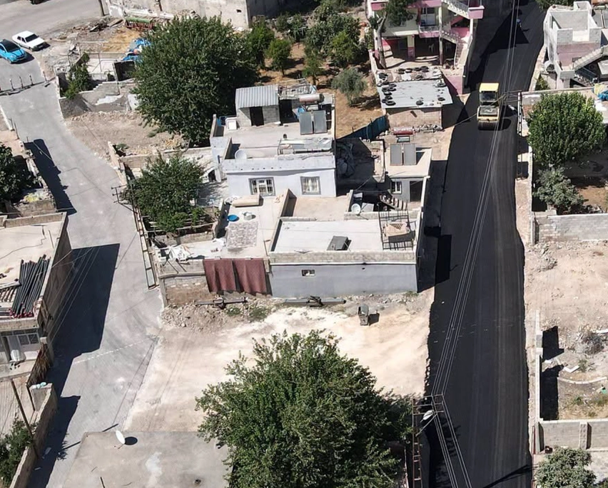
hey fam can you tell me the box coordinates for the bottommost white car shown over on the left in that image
[10,29,45,51]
